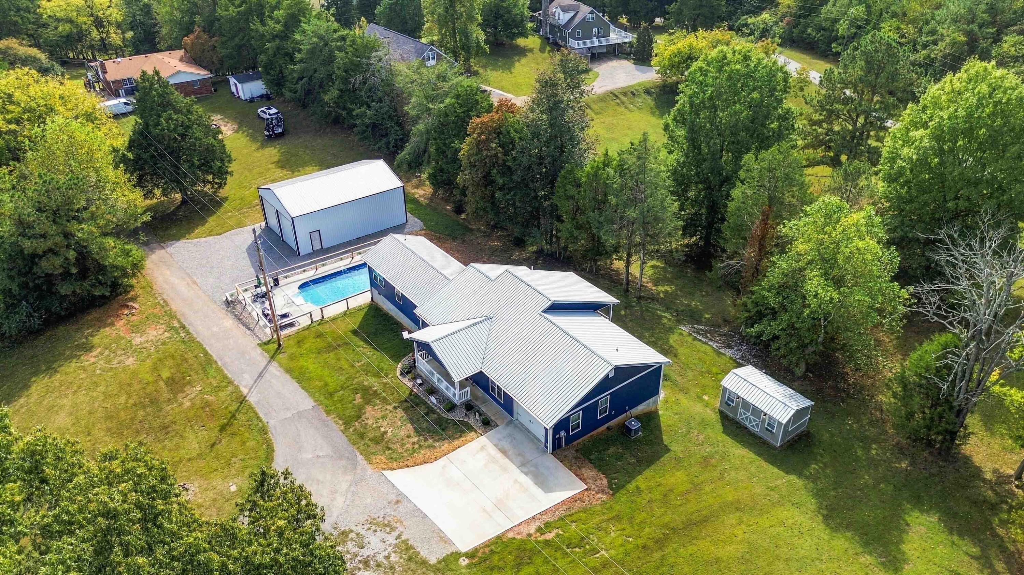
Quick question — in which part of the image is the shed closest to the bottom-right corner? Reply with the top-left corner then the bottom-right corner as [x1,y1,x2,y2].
[719,366,814,446]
